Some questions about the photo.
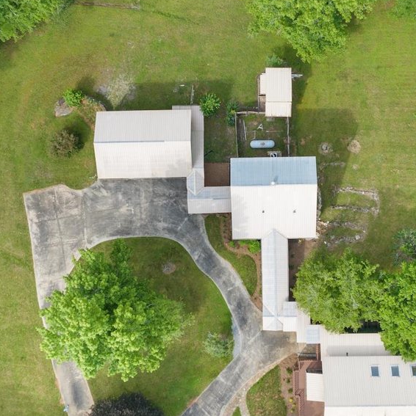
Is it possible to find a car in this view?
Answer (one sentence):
No, this view has no car in it.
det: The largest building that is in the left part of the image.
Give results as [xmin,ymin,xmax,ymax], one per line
[94,109,192,178]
